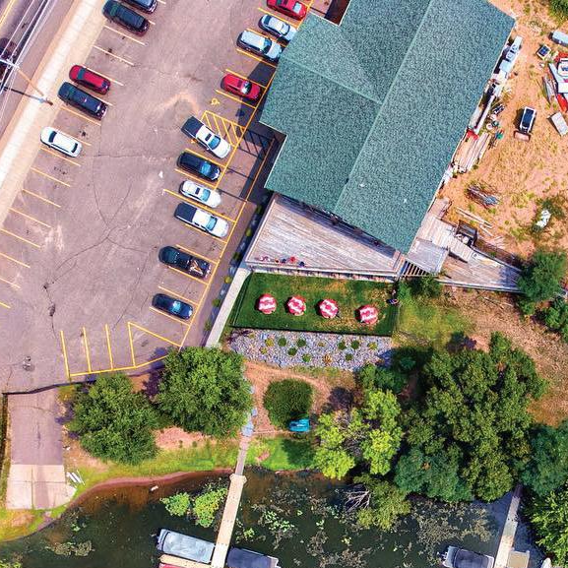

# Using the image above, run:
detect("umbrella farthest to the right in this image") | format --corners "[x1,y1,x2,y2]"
[357,300,377,321]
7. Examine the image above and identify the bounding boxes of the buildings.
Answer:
[258,0,516,254]
[455,216,477,244]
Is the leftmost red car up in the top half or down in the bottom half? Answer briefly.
top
